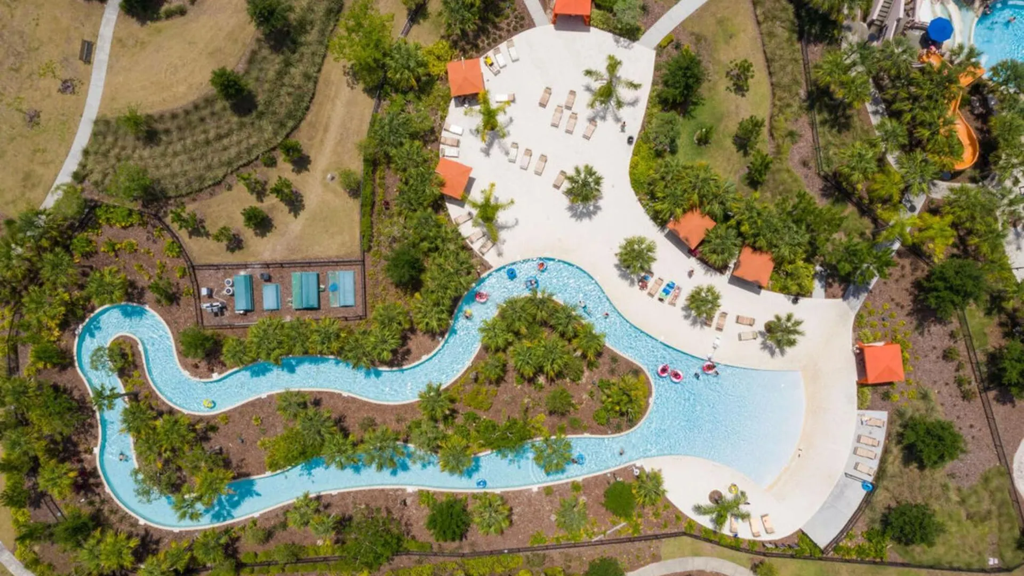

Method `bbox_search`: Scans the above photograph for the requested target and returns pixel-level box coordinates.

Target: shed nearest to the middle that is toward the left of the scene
[329,271,356,306]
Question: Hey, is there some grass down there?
Yes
